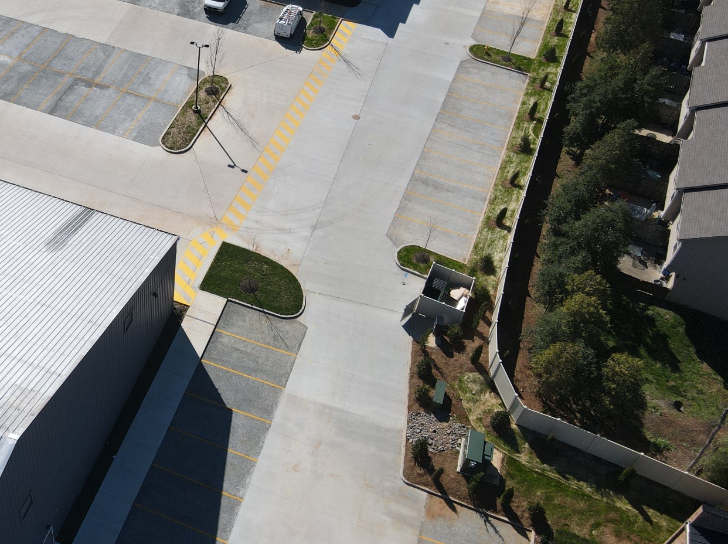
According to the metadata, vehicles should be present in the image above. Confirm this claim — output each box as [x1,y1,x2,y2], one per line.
[203,0,229,12]
[273,0,305,34]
